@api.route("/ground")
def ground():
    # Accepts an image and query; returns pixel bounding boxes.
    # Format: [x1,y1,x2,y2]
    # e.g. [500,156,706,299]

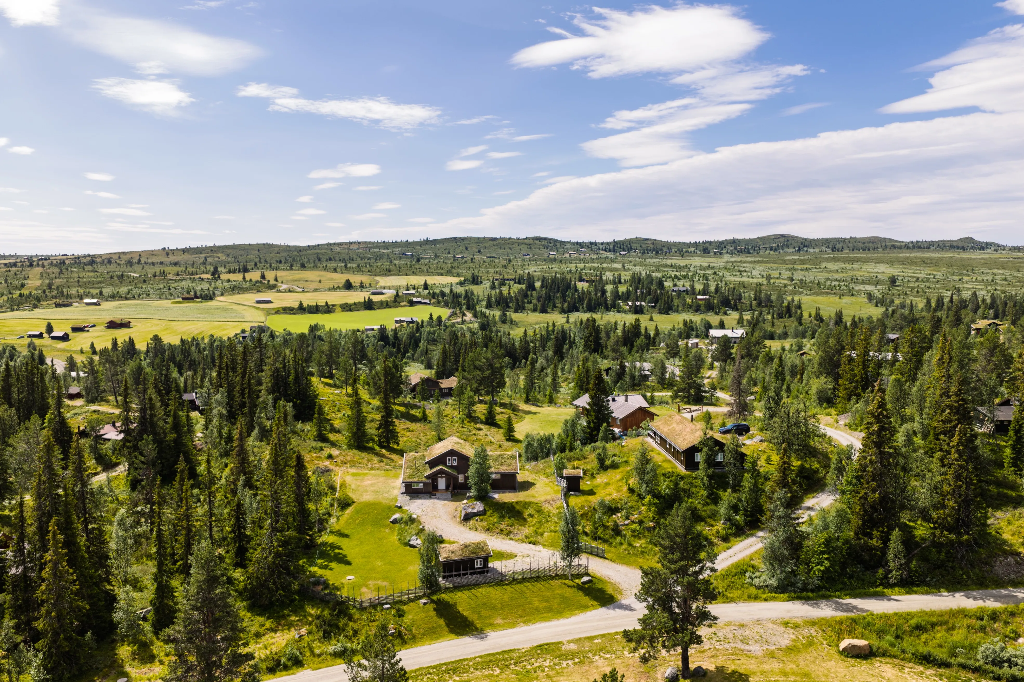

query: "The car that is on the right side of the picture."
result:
[718,423,750,435]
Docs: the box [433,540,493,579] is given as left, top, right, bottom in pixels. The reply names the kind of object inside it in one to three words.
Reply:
building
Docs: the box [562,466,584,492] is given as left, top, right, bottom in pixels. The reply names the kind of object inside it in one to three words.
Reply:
shed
